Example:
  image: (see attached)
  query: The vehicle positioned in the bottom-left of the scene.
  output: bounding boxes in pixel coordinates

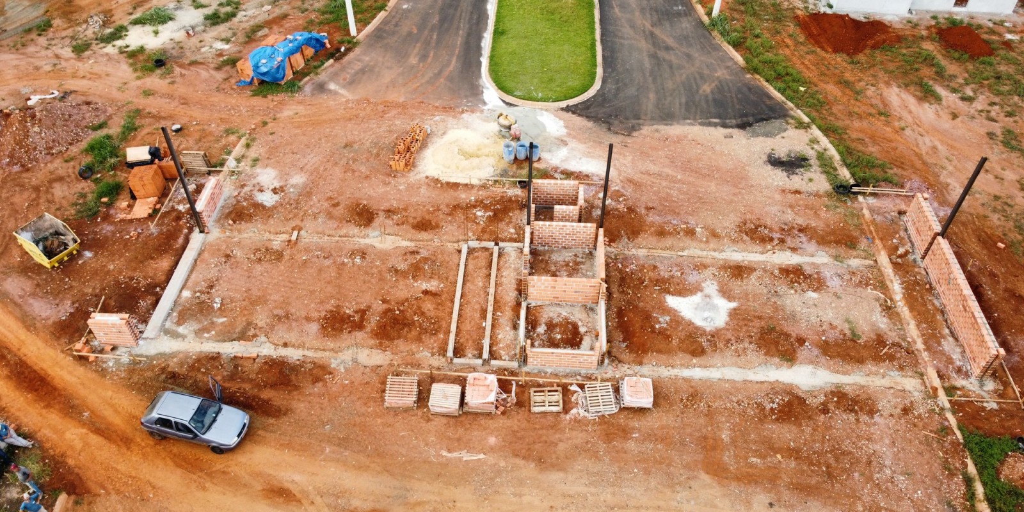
[142,382,248,454]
